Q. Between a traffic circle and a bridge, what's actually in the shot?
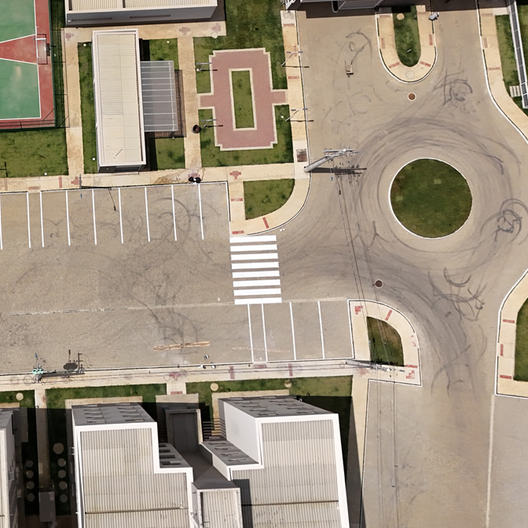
traffic circle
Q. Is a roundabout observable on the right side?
Yes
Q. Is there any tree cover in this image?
No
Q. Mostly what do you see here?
paved ground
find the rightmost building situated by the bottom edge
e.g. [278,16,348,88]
[61,389,349,528]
